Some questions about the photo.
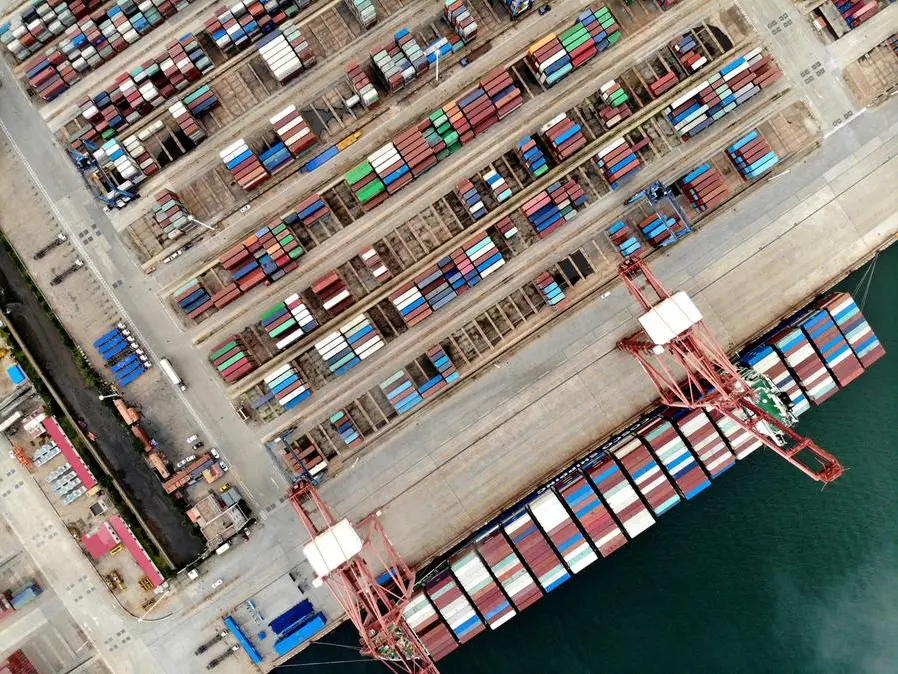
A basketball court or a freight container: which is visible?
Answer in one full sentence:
The image shows a freight container.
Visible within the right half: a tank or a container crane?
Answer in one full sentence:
The feature located within the right half is a container crane.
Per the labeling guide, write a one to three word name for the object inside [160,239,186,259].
vehicle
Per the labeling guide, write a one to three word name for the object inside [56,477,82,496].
vehicle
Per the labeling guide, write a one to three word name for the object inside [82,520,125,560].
house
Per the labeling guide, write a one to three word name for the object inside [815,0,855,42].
building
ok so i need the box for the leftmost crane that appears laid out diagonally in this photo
[56,133,133,206]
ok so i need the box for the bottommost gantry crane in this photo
[277,474,438,674]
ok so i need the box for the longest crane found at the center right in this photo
[610,248,856,486]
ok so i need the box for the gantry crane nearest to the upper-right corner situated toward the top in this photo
[627,182,695,251]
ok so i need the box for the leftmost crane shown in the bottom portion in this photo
[263,428,326,497]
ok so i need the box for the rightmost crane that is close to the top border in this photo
[490,0,527,38]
